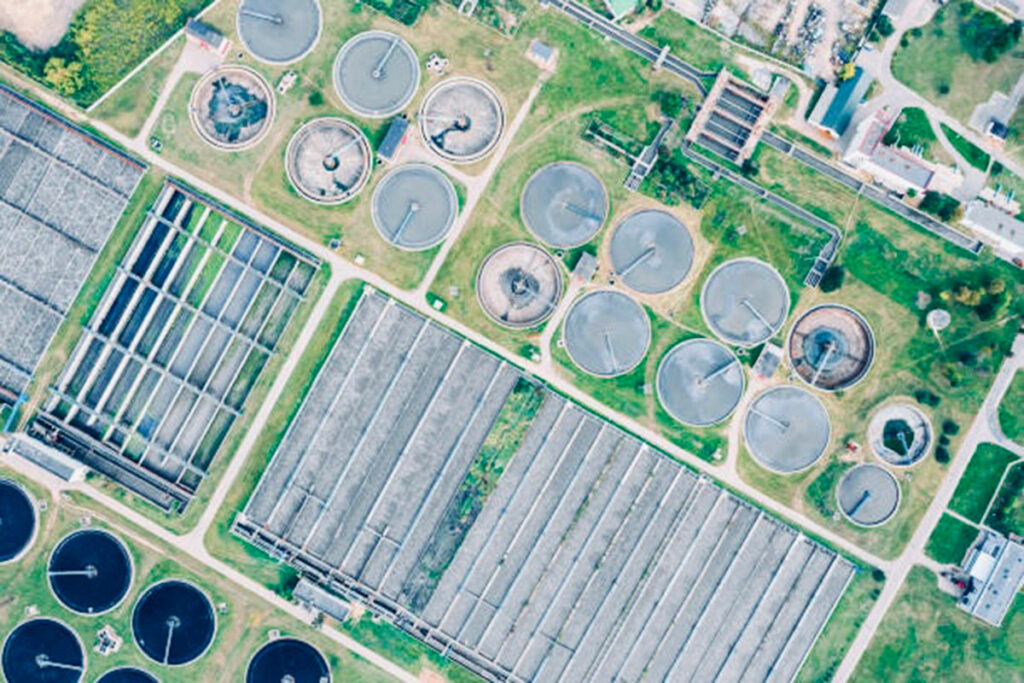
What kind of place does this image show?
industrial area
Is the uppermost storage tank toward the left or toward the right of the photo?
left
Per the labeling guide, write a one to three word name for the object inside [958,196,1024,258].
building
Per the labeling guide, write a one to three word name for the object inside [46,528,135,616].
storage tank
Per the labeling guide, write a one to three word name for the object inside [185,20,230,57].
shed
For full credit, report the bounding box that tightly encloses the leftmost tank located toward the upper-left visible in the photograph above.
[188,65,275,152]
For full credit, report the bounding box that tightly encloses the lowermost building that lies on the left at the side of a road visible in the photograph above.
[291,575,354,623]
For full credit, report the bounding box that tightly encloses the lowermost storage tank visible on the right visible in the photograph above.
[835,462,900,527]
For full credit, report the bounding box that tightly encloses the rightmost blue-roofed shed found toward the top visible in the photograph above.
[986,120,1010,141]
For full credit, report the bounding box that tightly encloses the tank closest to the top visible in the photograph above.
[237,0,322,65]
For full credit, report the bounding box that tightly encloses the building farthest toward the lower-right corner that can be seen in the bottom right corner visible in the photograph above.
[953,528,1024,628]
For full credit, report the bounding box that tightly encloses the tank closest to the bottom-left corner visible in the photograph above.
[1,616,87,683]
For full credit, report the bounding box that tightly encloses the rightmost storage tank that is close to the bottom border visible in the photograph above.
[244,636,332,683]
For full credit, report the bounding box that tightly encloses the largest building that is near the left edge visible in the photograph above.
[11,432,90,482]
